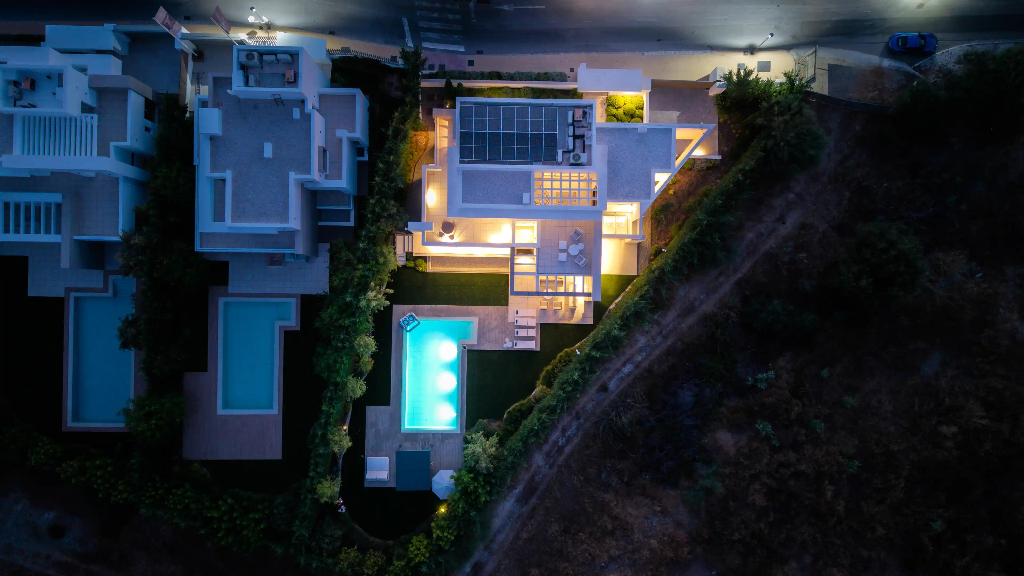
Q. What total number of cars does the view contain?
1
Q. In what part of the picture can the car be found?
top right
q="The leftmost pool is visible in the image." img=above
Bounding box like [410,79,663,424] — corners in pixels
[67,274,135,427]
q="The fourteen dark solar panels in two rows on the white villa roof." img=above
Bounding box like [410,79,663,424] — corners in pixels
[461,105,557,164]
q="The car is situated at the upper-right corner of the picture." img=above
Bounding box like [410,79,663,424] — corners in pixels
[891,27,941,53]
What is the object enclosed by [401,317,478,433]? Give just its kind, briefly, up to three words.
swimming pool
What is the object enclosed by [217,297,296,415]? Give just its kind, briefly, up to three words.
swimming pool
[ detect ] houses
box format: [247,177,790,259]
[195,45,369,257]
[0,46,161,269]
[408,97,715,324]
